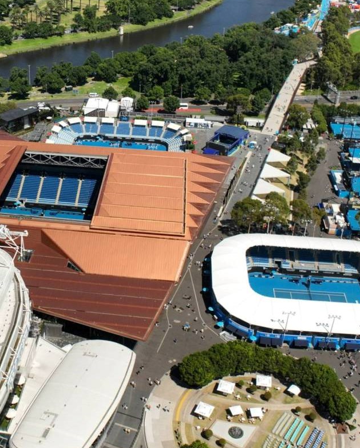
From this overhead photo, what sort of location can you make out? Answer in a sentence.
This looks like a sports ground.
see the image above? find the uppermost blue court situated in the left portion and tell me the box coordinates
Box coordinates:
[78,139,168,152]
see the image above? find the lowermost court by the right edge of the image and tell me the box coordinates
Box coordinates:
[248,272,360,304]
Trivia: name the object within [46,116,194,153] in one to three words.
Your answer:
stadium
